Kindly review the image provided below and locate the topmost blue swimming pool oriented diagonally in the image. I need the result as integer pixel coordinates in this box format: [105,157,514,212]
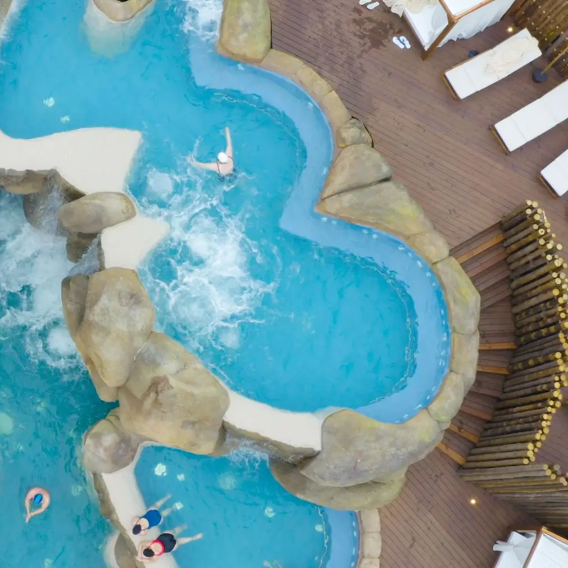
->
[0,0,446,423]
